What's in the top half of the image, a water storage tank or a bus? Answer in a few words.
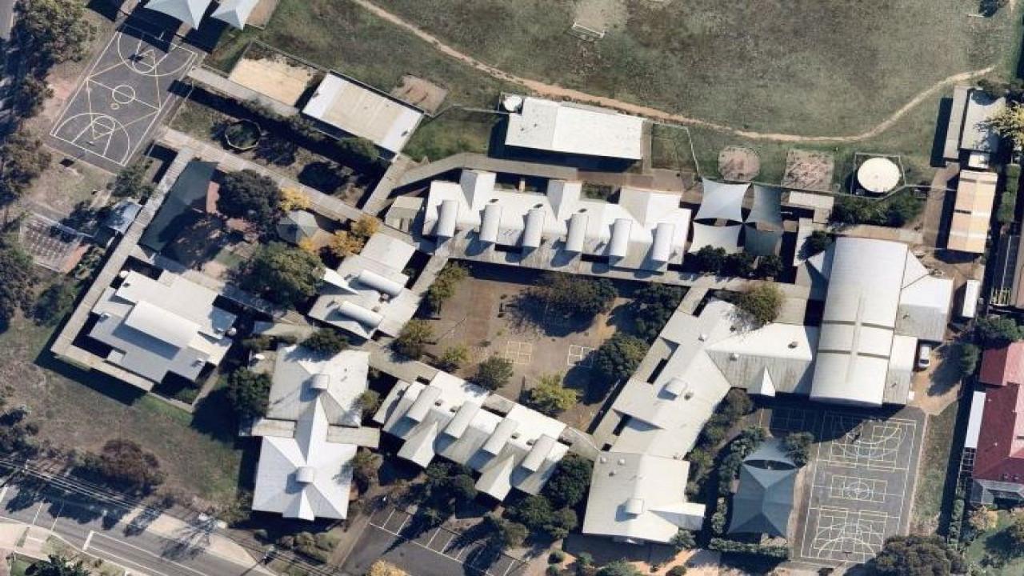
water storage tank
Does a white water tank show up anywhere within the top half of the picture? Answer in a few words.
Yes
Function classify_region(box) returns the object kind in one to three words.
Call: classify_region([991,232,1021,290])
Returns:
house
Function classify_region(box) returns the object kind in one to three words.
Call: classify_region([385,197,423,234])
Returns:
building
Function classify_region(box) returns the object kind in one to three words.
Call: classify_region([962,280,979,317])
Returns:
shed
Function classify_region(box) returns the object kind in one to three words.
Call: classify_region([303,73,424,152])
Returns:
building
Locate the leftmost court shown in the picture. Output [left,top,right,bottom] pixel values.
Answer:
[47,11,206,174]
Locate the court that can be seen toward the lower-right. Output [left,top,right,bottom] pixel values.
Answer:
[748,396,927,565]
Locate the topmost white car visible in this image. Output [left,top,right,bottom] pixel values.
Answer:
[918,343,931,370]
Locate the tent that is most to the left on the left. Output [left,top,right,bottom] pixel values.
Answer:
[142,0,209,32]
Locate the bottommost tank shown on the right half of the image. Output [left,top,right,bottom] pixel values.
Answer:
[856,153,899,196]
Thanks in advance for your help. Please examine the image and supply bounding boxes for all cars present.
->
[918,343,931,370]
[199,511,227,532]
